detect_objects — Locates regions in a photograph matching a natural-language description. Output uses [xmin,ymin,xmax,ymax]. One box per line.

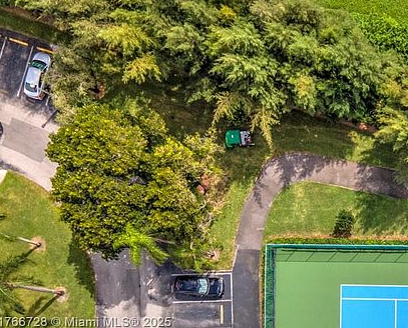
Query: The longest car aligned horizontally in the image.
[174,276,225,299]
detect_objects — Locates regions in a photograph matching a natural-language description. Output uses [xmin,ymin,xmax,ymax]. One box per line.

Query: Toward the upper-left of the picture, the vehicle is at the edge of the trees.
[22,51,55,102]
